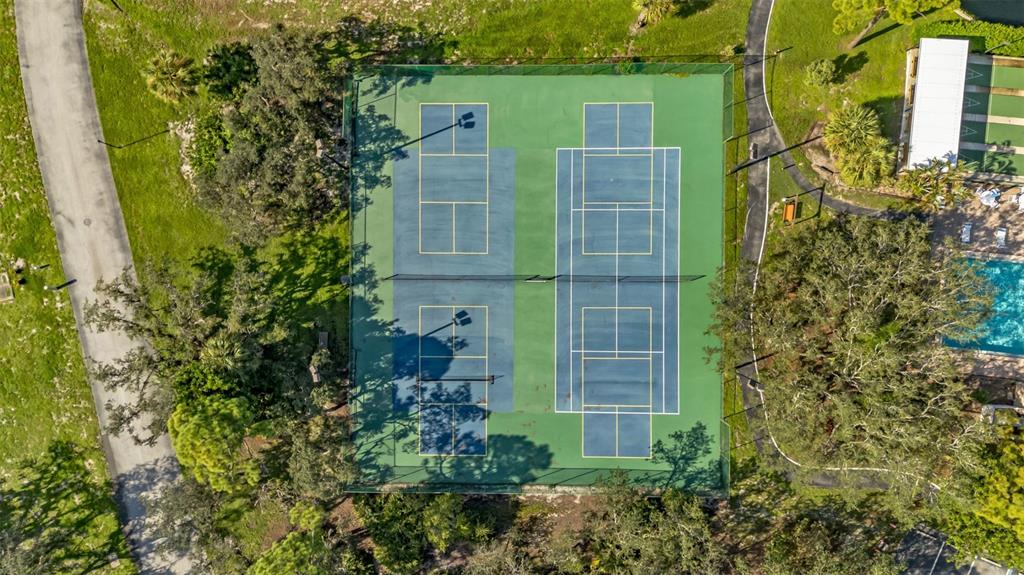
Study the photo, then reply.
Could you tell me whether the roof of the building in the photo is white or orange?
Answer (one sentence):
In this view, the roof of the building is white.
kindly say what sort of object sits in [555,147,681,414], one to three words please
tennis court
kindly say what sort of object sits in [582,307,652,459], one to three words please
sports court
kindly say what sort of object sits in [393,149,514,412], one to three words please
tennis court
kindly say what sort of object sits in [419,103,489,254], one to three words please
sports court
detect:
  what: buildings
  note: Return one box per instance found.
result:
[894,38,969,171]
